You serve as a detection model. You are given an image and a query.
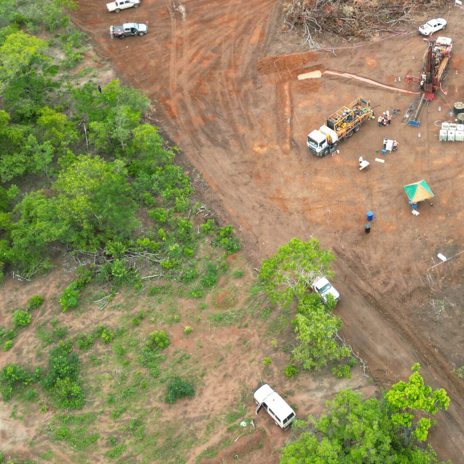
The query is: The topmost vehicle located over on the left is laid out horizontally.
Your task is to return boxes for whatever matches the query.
[108,0,142,14]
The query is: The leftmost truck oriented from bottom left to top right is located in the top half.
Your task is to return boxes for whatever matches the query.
[305,98,374,160]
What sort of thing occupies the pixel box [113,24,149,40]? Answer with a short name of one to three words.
vehicle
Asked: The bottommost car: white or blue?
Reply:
white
